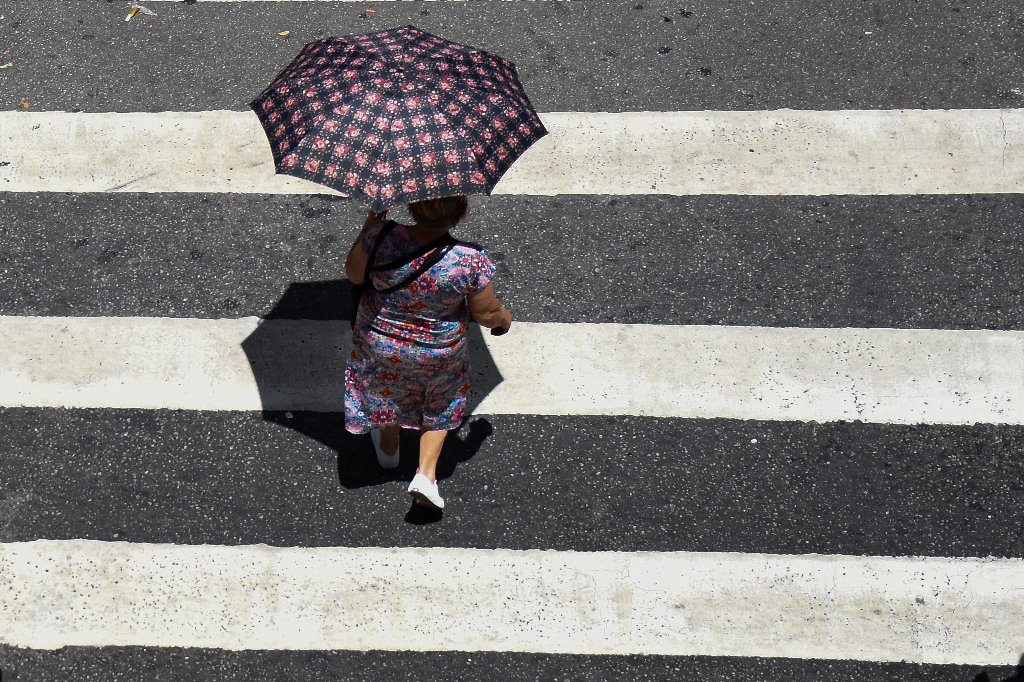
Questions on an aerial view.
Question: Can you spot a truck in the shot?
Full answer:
No, the frame has no truck in it.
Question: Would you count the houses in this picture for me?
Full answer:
The photo contains no houses.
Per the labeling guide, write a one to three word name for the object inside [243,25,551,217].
umbrella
